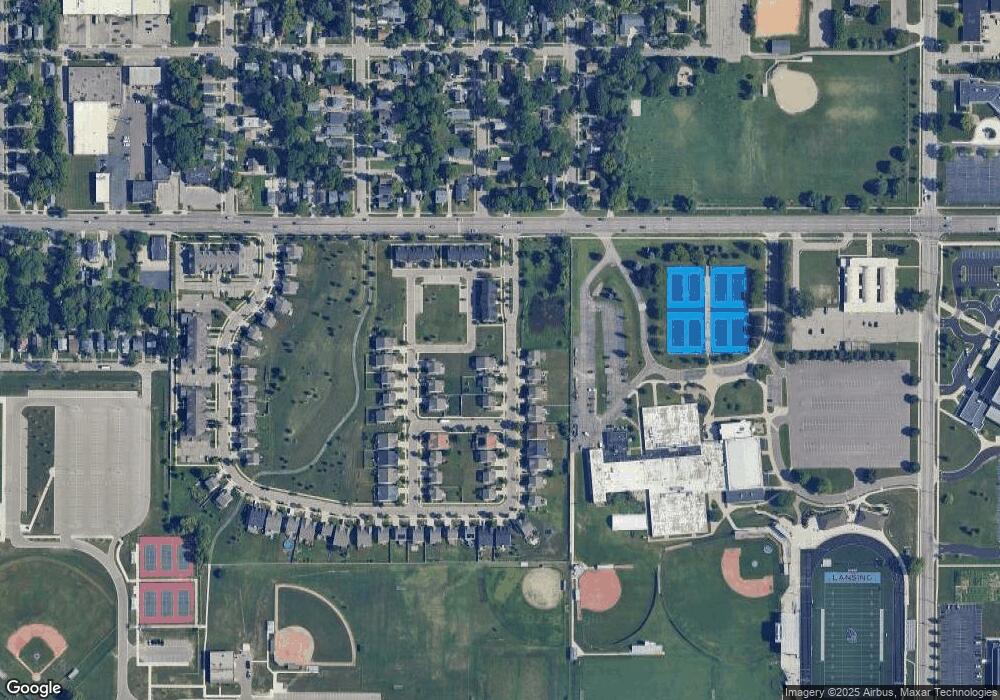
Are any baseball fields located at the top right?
Yes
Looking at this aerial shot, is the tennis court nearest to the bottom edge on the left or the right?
left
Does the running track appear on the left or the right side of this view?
right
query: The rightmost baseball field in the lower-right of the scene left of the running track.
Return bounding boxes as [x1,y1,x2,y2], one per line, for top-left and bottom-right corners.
[722,545,773,599]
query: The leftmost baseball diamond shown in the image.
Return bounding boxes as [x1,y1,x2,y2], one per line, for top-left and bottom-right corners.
[0,555,117,681]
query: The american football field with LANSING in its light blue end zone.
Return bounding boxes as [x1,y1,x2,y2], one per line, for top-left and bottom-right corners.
[812,544,893,700]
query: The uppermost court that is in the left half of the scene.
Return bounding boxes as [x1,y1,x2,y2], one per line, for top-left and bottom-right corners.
[140,536,194,579]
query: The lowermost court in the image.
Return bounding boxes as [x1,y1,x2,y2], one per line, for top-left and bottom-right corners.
[140,582,194,624]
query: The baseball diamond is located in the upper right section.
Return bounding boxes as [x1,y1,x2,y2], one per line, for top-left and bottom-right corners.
[765,62,817,114]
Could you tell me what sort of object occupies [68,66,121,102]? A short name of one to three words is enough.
building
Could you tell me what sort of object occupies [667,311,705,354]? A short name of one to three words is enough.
tennis court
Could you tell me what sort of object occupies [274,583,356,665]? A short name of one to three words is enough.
baseball field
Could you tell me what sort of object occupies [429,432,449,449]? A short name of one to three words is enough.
house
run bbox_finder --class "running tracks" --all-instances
[801,534,904,700]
